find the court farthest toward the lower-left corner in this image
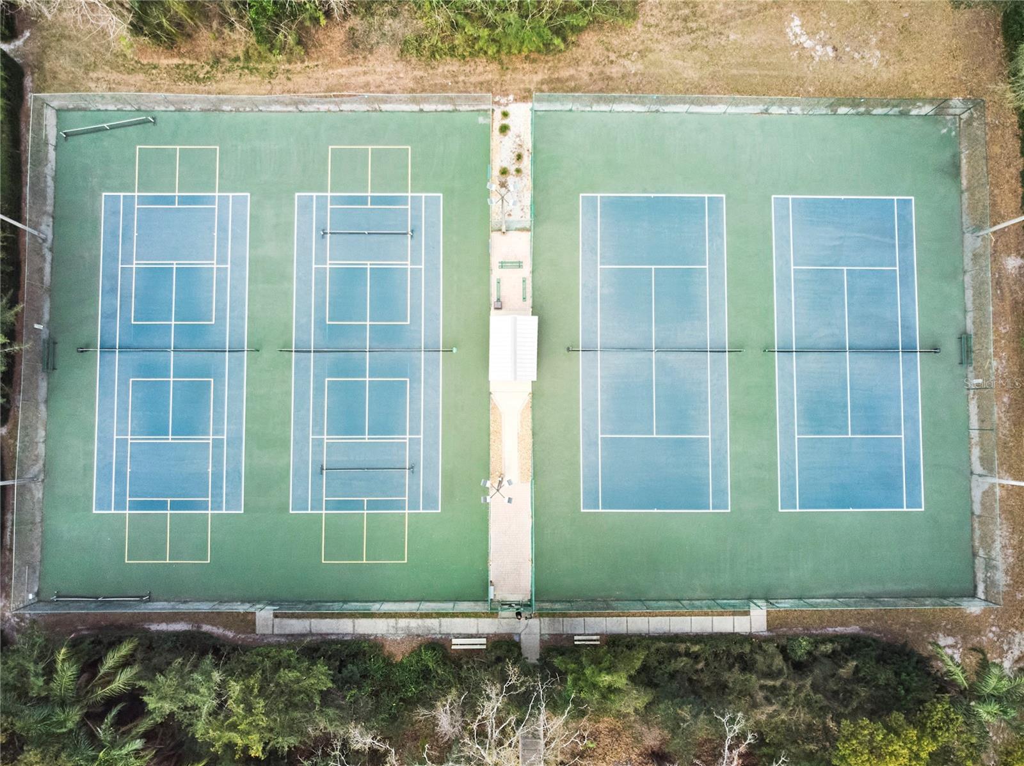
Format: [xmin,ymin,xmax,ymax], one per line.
[125,379,213,562]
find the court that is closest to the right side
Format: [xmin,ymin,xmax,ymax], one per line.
[772,196,924,511]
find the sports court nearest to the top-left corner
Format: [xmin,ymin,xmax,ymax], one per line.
[132,146,218,323]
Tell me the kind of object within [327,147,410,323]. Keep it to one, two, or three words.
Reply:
sports court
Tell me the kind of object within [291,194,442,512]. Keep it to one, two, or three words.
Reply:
tennis court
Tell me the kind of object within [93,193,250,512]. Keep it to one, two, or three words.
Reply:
tennis court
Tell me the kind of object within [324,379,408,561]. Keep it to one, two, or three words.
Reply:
sports court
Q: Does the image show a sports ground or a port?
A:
sports ground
